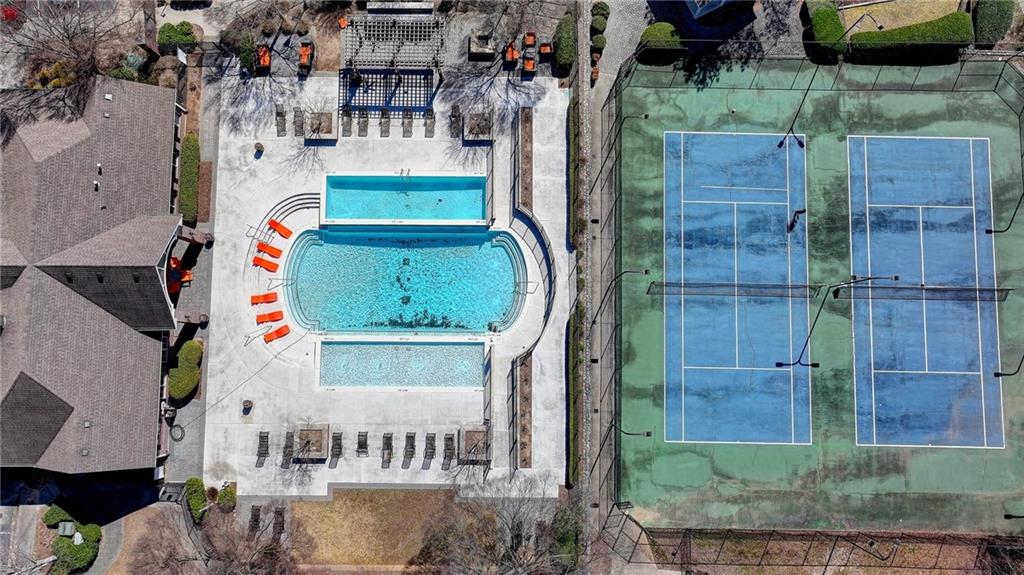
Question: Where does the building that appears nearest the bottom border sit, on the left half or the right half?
left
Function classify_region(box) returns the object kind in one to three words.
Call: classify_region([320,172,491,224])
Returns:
swimming pool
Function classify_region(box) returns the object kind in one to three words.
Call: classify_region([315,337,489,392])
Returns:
swimming pool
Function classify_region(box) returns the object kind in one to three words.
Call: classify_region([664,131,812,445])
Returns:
tennis court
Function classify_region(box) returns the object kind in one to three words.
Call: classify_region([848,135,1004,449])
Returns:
tennis court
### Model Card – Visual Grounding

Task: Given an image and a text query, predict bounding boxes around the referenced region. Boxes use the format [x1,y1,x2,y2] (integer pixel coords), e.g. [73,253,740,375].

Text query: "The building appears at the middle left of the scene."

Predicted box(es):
[0,75,201,473]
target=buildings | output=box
[0,75,201,473]
[683,0,732,20]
